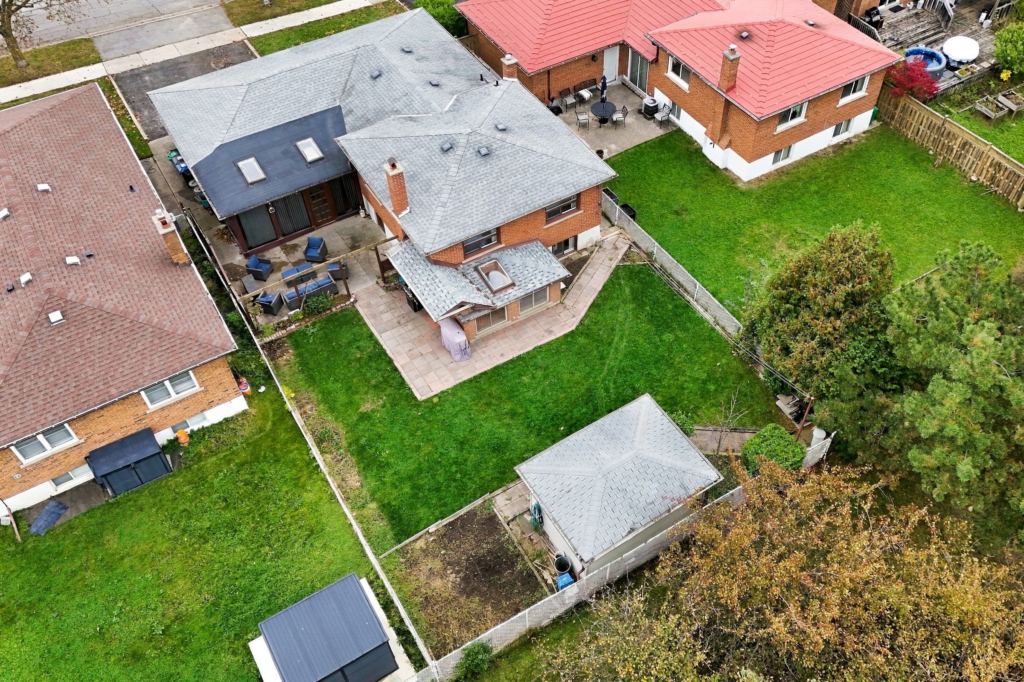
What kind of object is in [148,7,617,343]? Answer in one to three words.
house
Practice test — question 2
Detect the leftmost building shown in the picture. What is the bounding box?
[0,84,248,516]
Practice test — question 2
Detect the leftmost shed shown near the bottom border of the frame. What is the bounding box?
[255,569,398,682]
